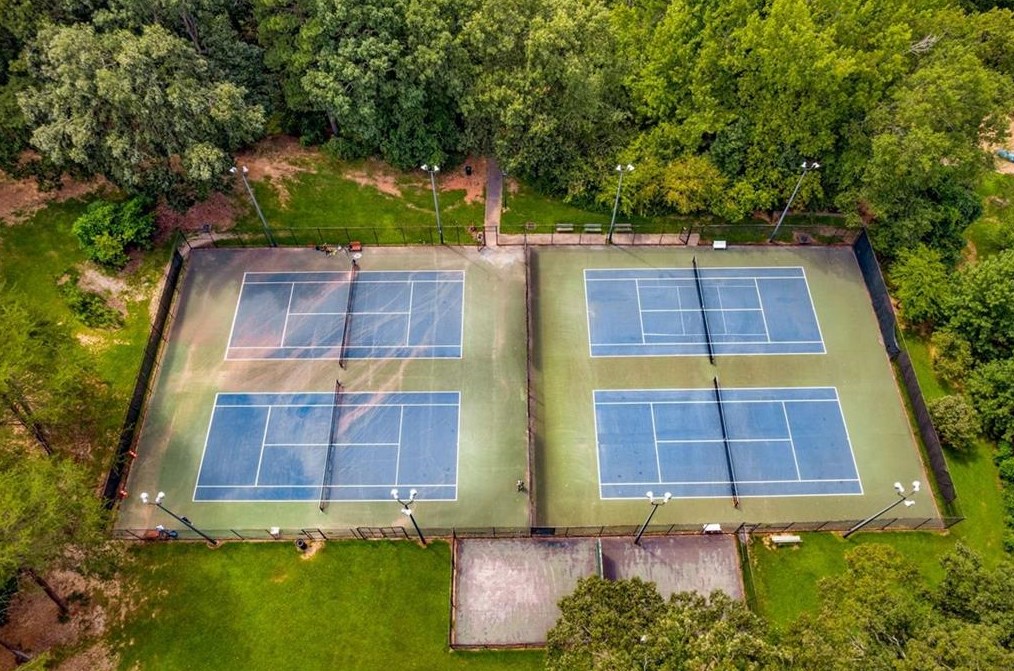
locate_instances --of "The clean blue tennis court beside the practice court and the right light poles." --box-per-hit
[593,388,862,498]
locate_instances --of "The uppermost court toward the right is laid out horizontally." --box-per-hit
[583,266,826,356]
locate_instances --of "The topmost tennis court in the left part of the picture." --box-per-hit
[226,270,464,360]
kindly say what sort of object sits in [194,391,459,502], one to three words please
tennis court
